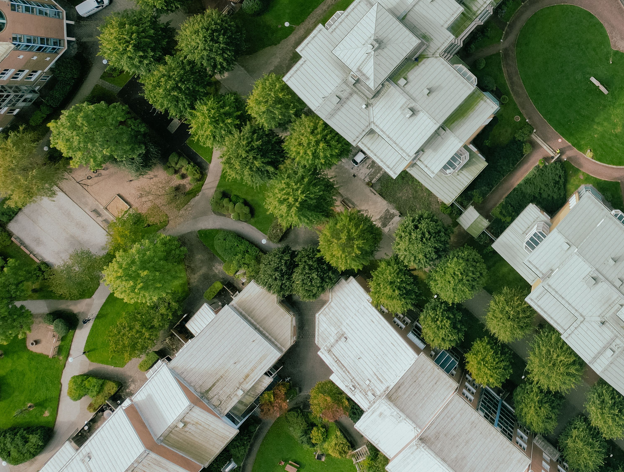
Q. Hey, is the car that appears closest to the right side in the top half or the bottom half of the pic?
top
